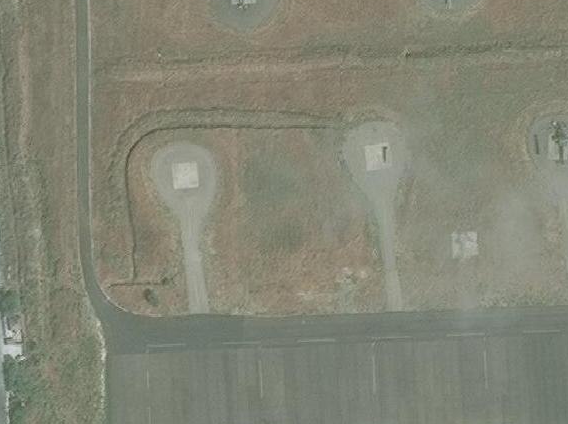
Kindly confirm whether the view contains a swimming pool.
No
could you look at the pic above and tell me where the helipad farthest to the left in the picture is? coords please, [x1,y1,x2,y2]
[172,162,199,190]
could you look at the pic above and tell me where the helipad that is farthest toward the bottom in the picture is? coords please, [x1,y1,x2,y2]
[452,231,478,259]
